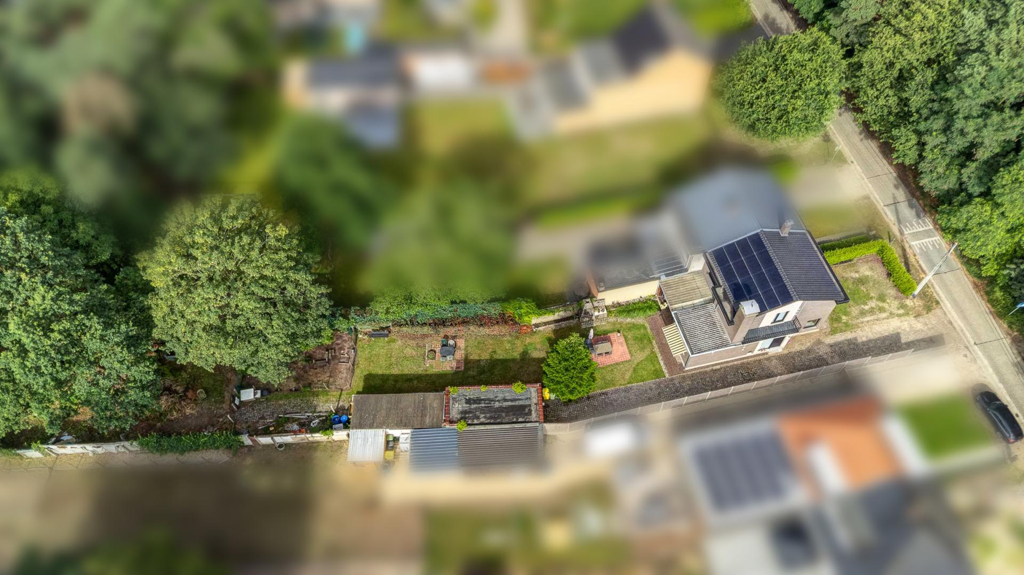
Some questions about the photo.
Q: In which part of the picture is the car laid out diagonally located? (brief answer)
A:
bottom right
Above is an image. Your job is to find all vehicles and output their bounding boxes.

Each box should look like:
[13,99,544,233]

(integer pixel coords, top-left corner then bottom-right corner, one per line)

[977,397,1024,447]
[584,427,645,458]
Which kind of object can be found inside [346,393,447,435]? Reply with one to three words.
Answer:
shed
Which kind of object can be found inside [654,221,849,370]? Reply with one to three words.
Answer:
house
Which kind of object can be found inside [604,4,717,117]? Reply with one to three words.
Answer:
house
